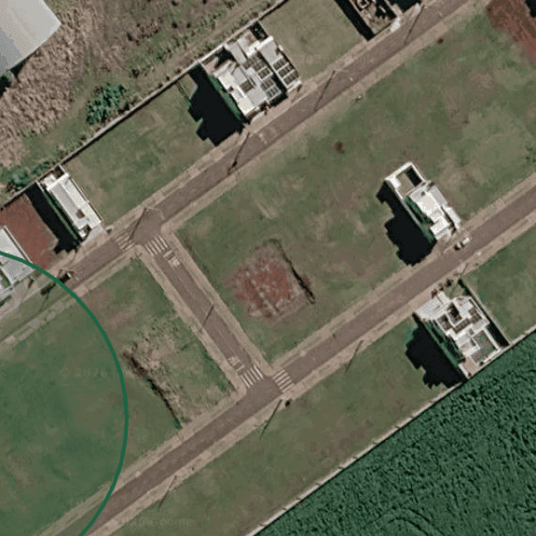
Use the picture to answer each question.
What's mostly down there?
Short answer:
grass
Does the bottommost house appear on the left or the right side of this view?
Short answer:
right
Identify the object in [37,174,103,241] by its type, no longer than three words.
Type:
house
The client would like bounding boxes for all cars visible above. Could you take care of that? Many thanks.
[458,237,472,249]
[61,271,75,283]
